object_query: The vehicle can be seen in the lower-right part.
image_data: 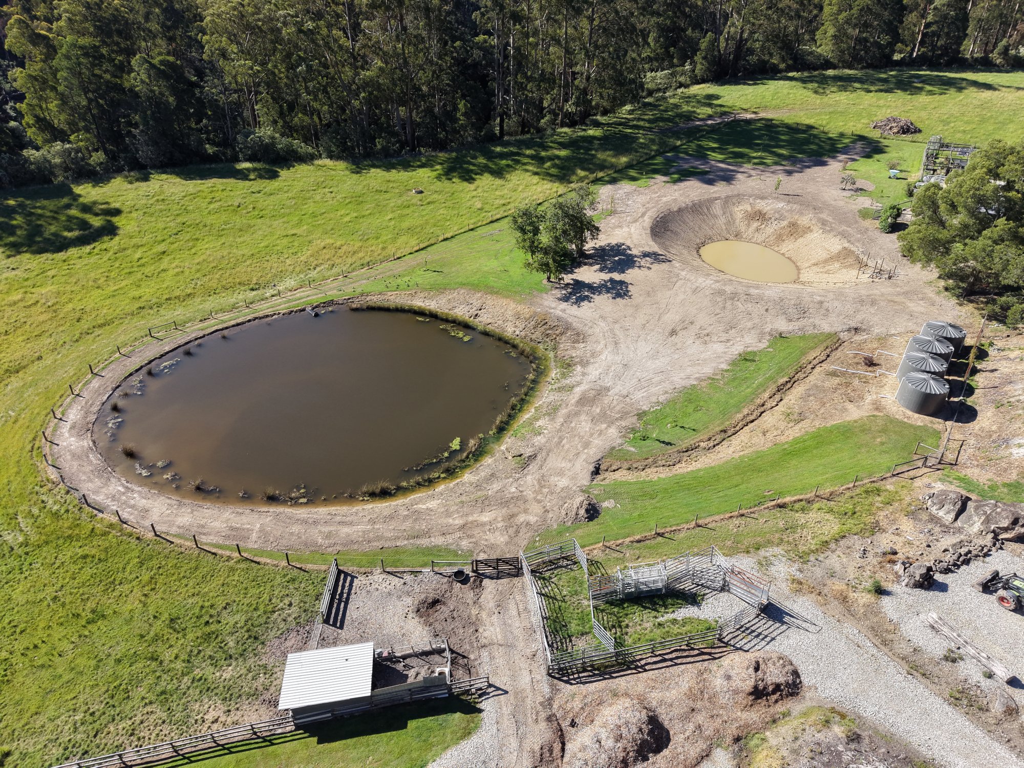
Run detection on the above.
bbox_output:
[968,568,1024,615]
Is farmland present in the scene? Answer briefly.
Yes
